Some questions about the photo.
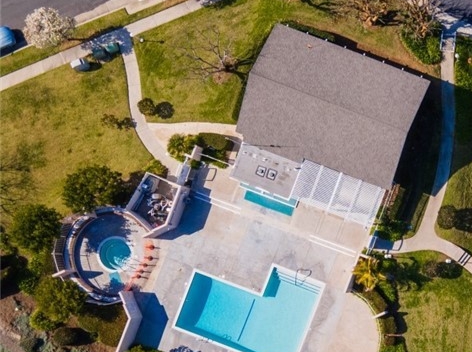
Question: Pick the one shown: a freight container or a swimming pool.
swimming pool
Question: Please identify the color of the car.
blue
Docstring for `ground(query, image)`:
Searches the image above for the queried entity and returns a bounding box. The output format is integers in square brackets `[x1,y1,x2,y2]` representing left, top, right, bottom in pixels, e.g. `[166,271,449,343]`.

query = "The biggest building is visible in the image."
[230,24,431,208]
